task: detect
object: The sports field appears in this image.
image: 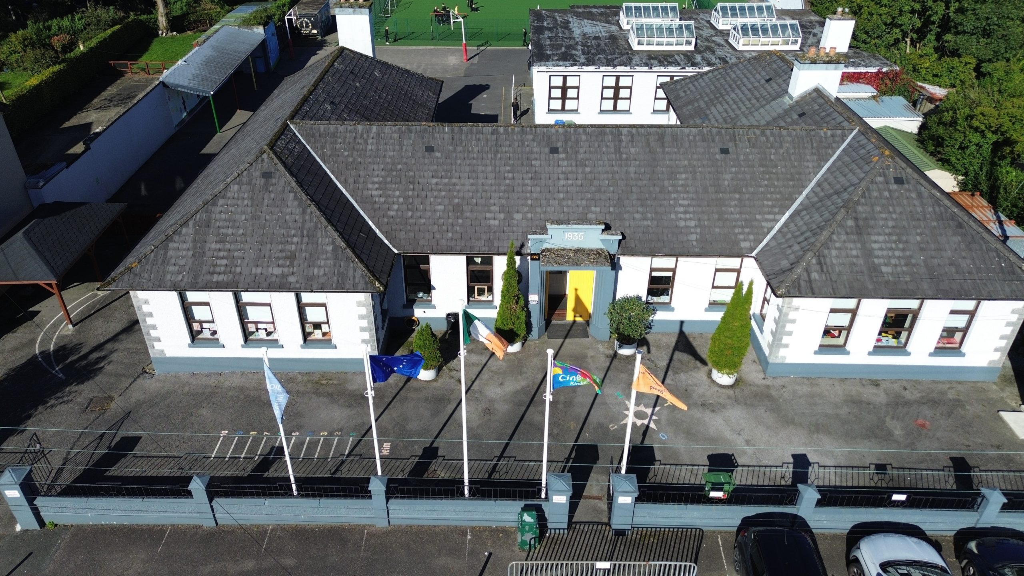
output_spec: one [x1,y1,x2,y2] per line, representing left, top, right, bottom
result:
[336,0,958,51]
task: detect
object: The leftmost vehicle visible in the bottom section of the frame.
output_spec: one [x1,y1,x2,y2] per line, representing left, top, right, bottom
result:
[735,517,835,576]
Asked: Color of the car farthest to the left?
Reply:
black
